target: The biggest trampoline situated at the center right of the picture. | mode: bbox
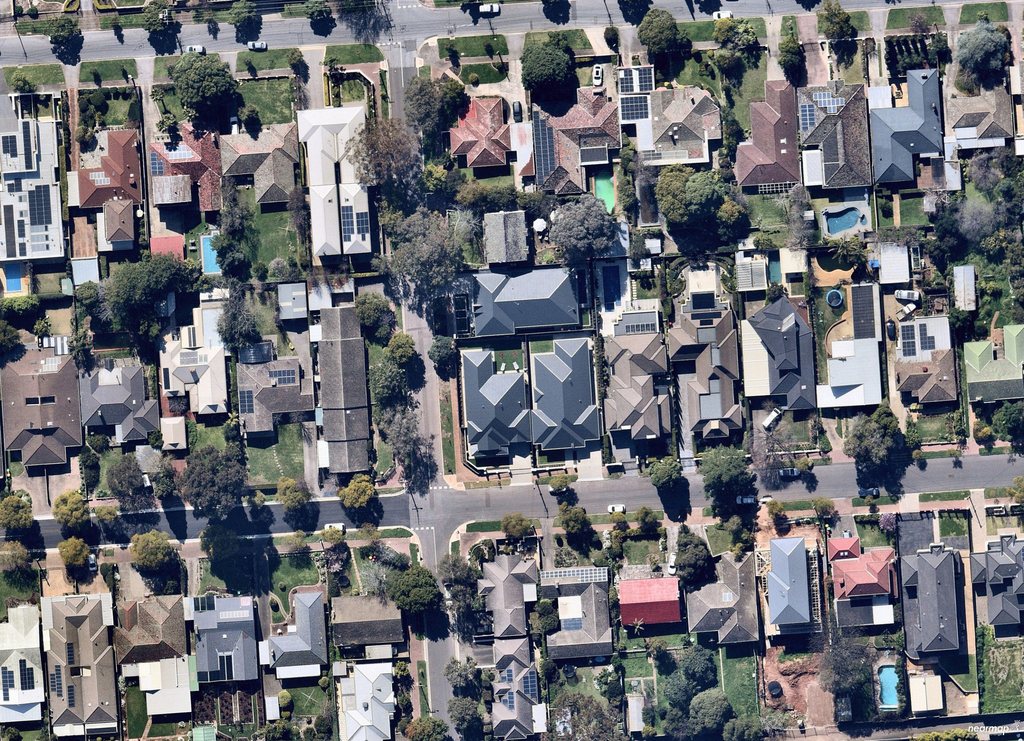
[827,290,843,306]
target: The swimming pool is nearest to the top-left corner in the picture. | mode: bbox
[3,261,23,293]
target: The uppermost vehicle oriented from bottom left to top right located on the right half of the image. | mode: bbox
[896,302,917,321]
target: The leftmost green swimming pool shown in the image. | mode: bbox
[593,170,617,215]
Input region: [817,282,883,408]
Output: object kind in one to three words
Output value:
house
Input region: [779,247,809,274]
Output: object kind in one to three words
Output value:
building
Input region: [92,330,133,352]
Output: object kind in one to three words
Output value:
swimming pool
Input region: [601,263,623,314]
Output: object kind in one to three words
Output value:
swimming pool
